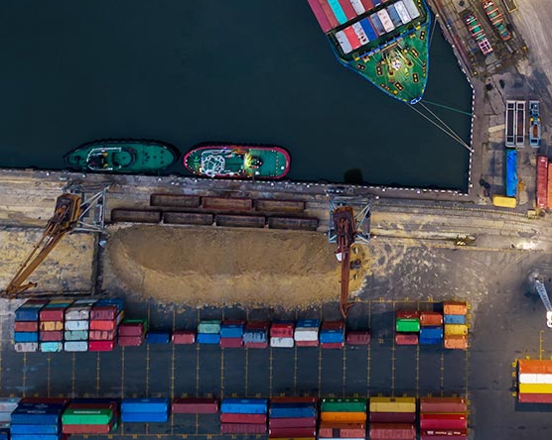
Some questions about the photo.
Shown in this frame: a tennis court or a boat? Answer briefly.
boat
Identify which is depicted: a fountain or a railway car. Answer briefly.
railway car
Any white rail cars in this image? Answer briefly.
No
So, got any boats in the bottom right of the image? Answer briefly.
No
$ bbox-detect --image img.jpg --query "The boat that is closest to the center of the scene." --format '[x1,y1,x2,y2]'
[182,146,288,180]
